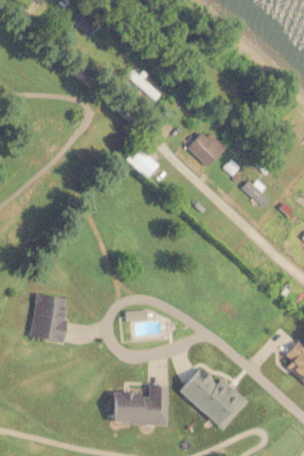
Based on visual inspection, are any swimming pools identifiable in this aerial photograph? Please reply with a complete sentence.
Yes, there's a swimming pool down there.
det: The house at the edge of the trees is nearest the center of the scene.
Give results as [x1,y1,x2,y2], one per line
[125,147,162,180]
